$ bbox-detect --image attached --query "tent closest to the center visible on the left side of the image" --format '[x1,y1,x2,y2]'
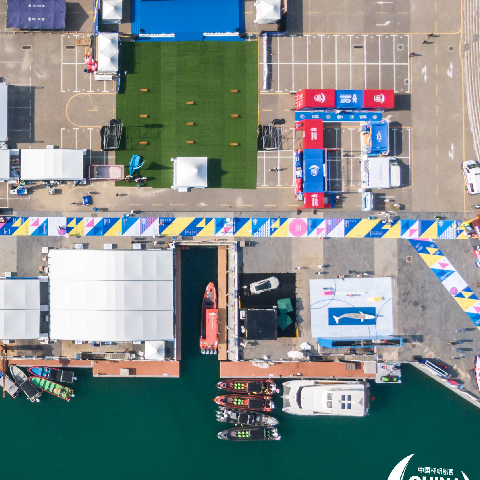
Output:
[169,155,208,190]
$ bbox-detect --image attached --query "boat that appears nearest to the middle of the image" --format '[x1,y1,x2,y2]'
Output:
[199,281,218,353]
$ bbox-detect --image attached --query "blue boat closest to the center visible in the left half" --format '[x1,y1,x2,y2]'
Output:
[128,154,141,174]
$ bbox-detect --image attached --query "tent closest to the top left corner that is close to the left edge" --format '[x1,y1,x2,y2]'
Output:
[6,0,66,32]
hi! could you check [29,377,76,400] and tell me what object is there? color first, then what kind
green boat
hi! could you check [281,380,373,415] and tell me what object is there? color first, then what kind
white boat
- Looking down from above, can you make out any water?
Yes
